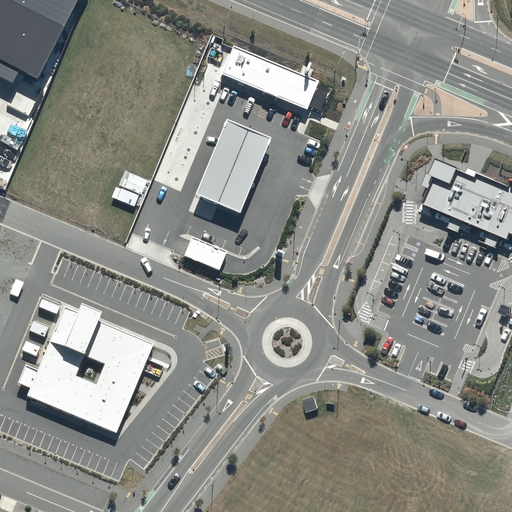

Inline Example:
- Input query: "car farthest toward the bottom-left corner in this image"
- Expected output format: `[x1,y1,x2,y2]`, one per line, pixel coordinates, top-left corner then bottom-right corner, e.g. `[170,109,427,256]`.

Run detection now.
[168,474,180,490]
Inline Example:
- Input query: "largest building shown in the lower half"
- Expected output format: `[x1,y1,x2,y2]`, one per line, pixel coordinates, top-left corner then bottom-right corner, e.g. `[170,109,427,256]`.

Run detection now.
[28,304,153,434]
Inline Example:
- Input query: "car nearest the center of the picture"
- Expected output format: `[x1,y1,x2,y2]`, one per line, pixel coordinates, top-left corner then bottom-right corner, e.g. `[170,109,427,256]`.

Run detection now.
[234,229,248,244]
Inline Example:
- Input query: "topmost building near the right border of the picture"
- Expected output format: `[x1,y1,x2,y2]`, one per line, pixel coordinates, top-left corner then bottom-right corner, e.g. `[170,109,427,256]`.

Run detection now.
[422,160,512,250]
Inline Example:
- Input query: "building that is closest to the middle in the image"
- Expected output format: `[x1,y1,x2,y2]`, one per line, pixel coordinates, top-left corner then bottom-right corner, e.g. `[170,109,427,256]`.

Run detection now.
[185,238,227,272]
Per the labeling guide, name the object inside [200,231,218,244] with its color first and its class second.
gray vehicle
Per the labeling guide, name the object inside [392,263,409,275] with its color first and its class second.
white vehicle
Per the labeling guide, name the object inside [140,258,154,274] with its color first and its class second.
white vehicle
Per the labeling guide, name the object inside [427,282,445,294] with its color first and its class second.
gray vehicle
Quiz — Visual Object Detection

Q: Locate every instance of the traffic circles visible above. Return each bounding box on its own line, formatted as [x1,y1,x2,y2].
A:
[244,298,332,386]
